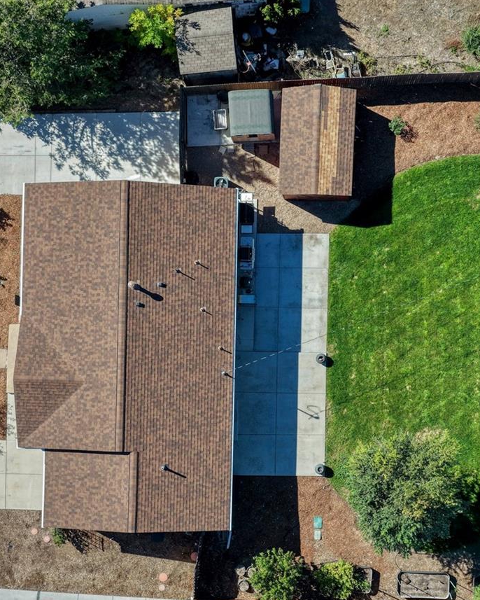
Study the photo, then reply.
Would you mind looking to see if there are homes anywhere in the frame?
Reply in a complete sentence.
Yes, the photo shows a home.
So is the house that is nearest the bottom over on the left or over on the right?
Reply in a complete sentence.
The house that is nearest the bottom appears in the left half of the scene.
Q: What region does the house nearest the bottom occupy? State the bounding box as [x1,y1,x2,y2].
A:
[13,181,241,549]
